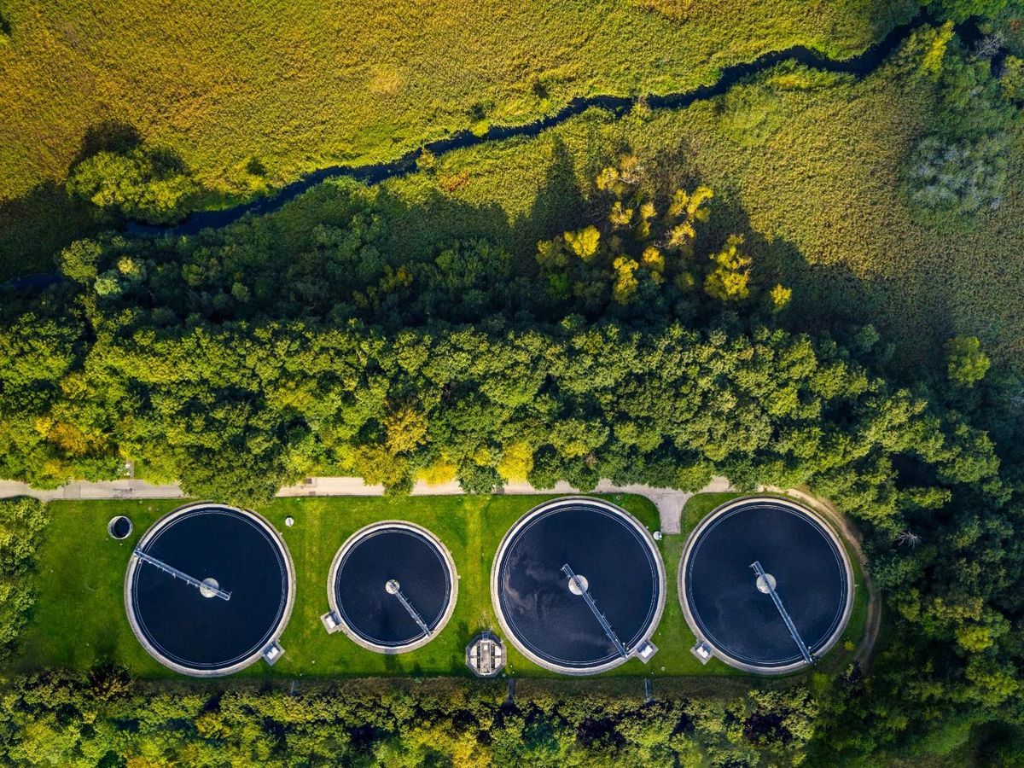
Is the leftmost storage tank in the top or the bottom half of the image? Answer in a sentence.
Seen from above, the leftmost storage tank lies in the bottom half of the view.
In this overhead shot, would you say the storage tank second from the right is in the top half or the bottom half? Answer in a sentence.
It is in the bottom half that the storage tank second from the right appears.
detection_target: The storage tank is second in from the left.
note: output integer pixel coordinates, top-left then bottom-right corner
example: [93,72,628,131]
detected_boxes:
[320,521,459,654]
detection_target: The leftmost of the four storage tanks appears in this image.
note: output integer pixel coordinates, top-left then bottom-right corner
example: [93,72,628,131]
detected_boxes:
[123,504,296,676]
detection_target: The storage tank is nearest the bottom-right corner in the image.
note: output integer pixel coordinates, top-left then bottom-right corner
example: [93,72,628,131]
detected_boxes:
[678,498,855,675]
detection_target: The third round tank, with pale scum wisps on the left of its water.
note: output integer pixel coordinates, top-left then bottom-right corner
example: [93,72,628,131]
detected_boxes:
[490,498,666,675]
